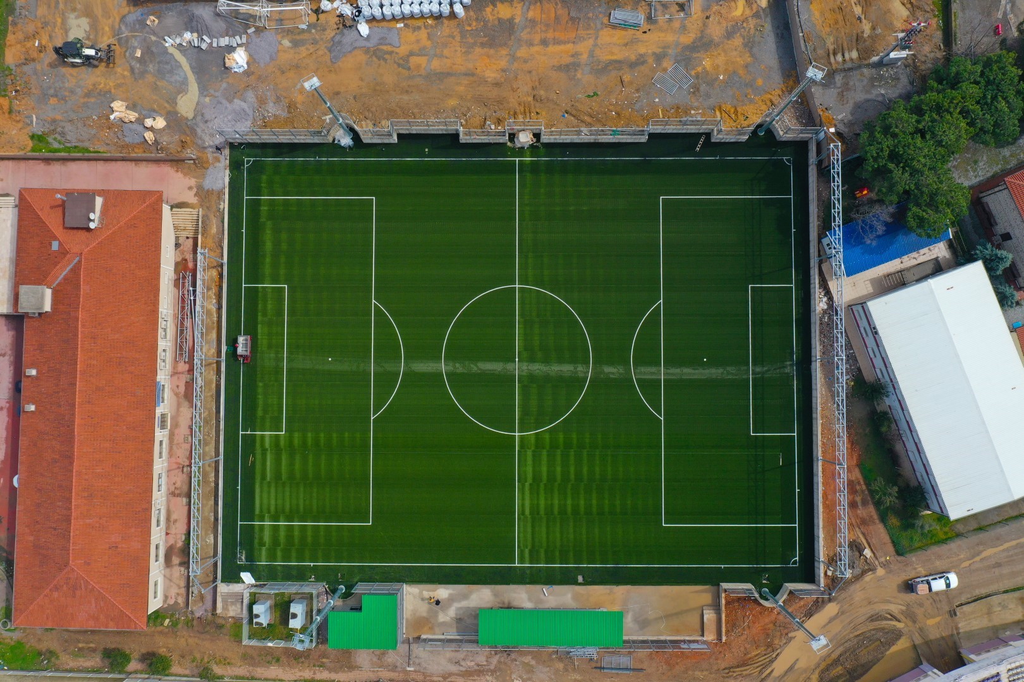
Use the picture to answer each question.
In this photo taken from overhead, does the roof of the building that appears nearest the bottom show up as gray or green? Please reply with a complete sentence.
The color of the roof of the building that appears nearest the bottom is green.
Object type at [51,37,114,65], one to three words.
work vehicle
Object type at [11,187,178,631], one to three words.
building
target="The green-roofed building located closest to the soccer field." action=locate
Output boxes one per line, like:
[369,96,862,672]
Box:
[328,590,400,650]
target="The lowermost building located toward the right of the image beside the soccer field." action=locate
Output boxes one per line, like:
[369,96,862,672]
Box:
[851,258,1024,521]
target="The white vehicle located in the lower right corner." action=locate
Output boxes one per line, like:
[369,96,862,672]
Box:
[910,574,961,599]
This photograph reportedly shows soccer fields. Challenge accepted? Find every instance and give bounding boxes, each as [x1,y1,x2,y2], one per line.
[221,124,815,593]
